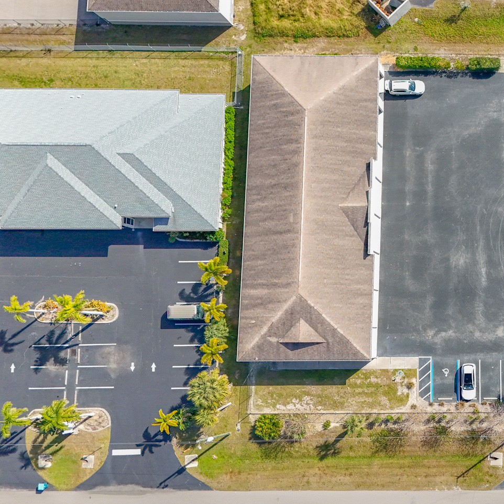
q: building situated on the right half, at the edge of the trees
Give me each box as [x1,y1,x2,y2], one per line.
[235,54,386,363]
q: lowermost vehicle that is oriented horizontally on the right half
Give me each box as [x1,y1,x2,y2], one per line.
[388,80,423,96]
